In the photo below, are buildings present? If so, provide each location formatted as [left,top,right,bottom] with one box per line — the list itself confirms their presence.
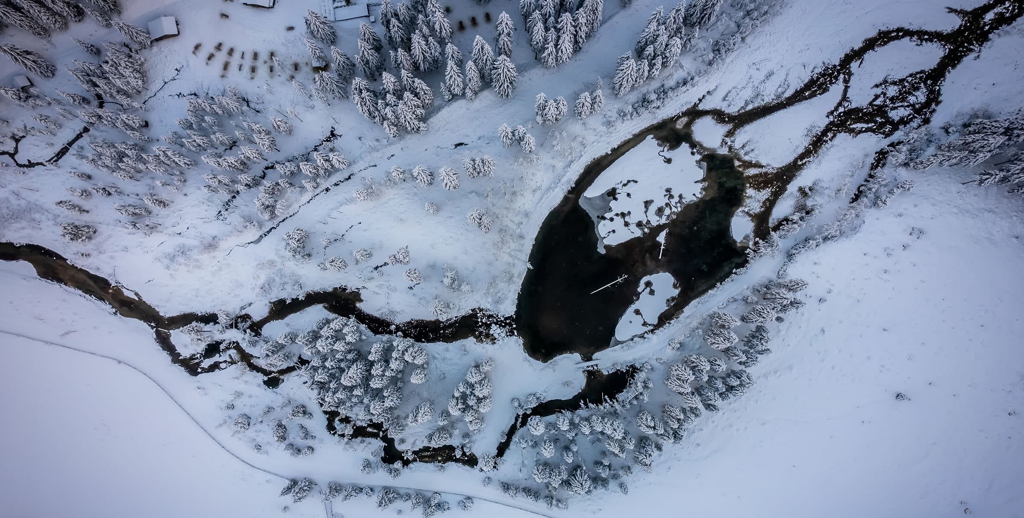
[13,74,38,92]
[246,0,272,10]
[151,16,182,41]
[334,3,368,22]
[312,57,328,70]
